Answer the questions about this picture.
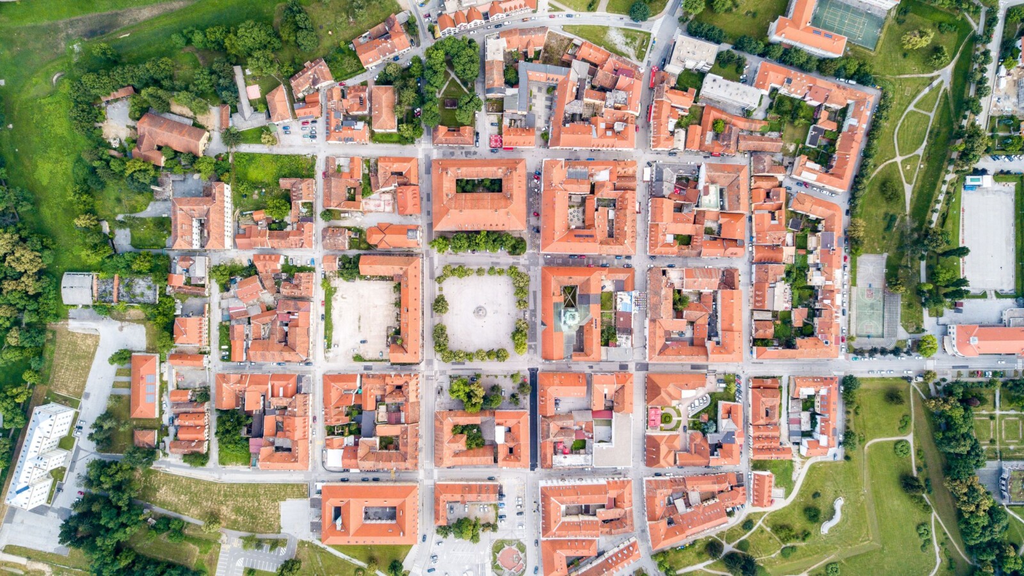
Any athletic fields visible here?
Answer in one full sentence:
Yes, this view includes an athletic field.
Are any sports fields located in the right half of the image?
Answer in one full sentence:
Yes, a sports field is visible in the right half of the image.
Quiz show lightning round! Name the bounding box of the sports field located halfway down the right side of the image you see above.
[962,186,1015,293]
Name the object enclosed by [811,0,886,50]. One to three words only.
sports court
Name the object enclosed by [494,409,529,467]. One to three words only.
house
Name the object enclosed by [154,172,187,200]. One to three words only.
shed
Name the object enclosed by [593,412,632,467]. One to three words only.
building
